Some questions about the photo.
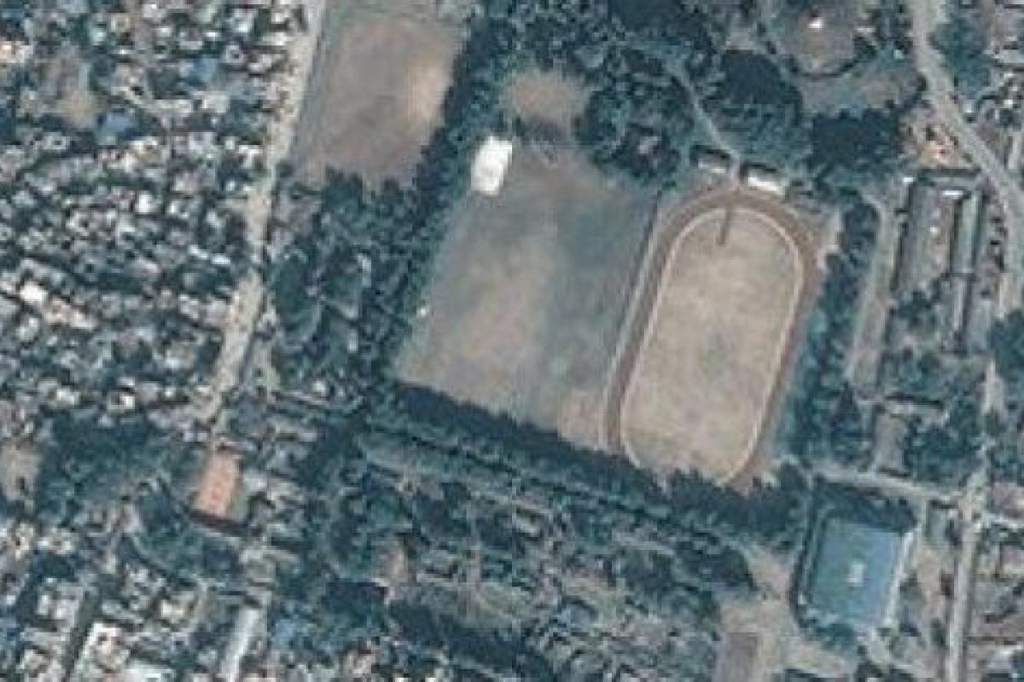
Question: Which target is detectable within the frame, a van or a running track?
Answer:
running track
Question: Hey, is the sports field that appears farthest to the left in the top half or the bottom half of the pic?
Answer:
top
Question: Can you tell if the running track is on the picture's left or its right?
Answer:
right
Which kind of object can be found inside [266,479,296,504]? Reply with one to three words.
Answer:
house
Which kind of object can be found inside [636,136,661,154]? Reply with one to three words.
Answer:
house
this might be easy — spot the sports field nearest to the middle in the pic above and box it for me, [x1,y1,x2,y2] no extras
[399,136,656,450]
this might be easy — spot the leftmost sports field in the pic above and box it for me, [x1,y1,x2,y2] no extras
[295,0,470,184]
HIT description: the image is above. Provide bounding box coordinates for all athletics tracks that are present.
[601,184,820,508]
